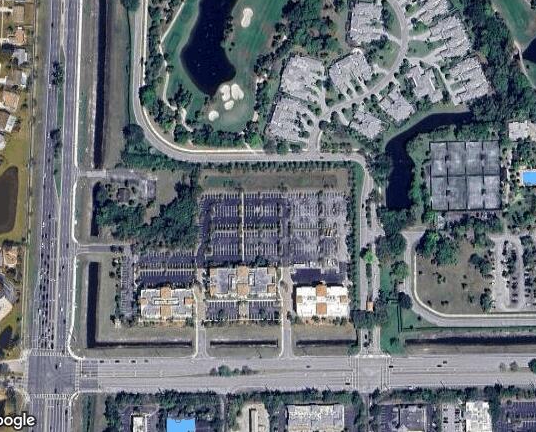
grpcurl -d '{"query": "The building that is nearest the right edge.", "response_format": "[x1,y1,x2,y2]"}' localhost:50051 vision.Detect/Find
[508,122,536,141]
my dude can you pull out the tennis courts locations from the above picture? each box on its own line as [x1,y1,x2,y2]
[466,142,481,174]
[448,177,463,208]
[483,177,499,208]
[431,177,445,208]
[431,142,445,174]
[466,177,481,208]
[483,142,499,174]
[448,142,463,174]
